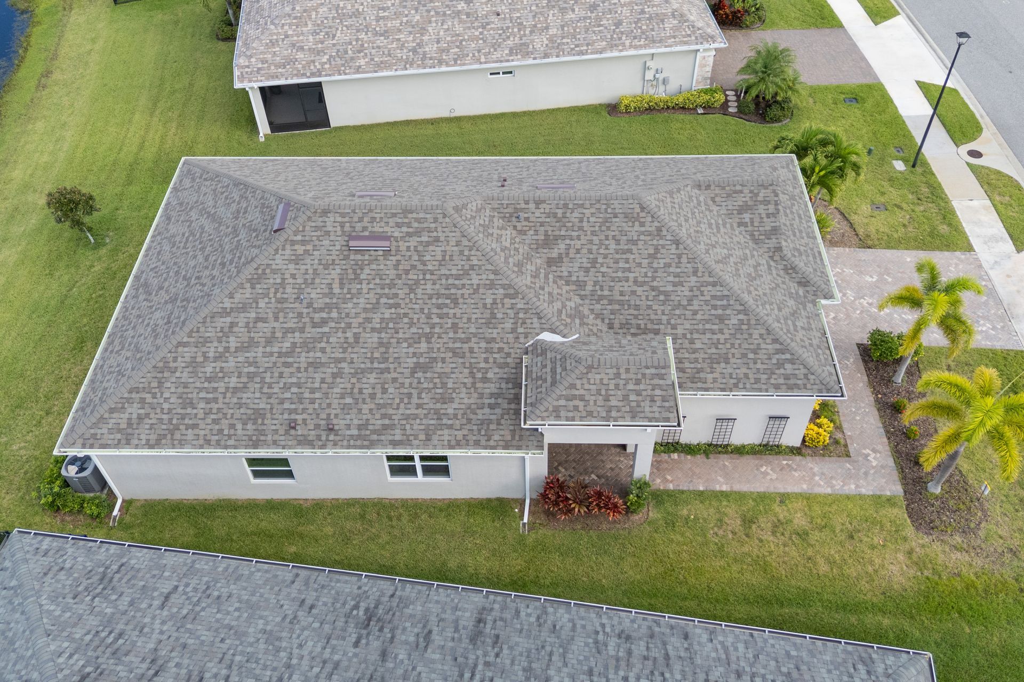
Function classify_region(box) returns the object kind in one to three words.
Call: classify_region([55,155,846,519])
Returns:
house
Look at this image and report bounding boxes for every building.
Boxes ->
[0,530,935,682]
[55,155,846,519]
[235,0,727,138]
